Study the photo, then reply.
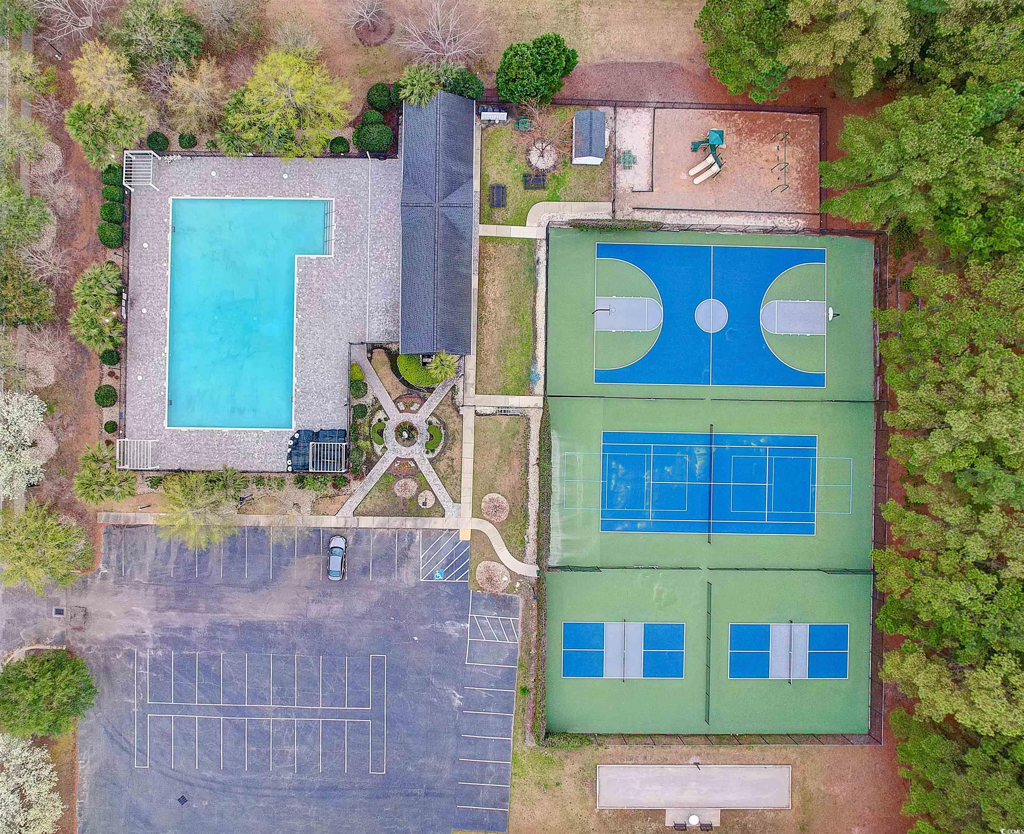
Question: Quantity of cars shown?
1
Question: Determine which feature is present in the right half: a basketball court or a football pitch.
basketball court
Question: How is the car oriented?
up and down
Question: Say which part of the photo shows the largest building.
top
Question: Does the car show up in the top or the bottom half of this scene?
bottom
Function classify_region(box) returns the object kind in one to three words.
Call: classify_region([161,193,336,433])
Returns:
swimming pool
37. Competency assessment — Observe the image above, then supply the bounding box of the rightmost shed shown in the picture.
[574,107,606,164]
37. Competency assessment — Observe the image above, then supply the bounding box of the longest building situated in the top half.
[399,89,476,355]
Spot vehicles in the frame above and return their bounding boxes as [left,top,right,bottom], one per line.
[328,537,348,582]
